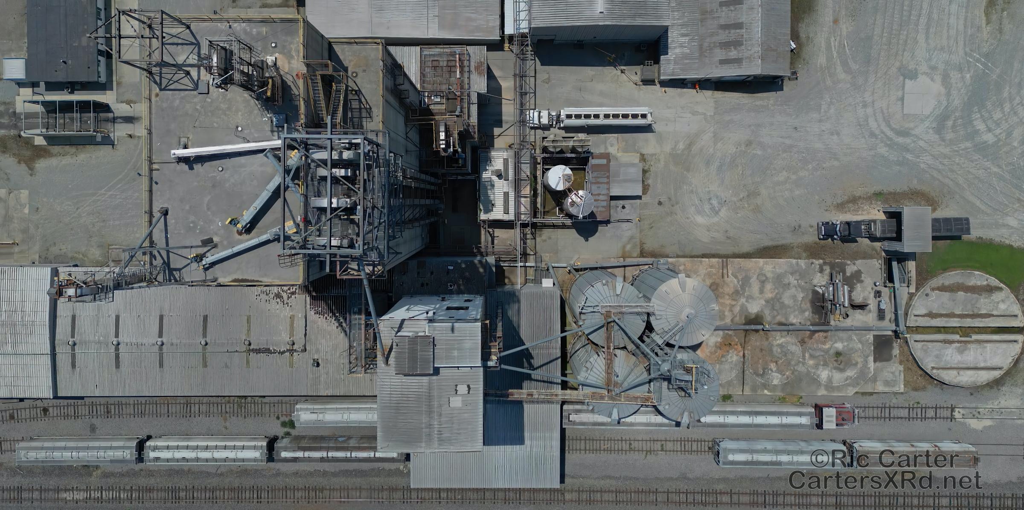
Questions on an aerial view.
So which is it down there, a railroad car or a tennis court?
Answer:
railroad car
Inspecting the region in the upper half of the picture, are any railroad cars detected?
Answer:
No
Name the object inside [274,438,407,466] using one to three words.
rail car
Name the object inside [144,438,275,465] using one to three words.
rail car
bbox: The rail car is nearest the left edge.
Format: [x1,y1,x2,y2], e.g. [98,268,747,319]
[16,438,147,465]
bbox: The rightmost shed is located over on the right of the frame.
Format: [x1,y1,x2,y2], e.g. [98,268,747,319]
[882,207,932,252]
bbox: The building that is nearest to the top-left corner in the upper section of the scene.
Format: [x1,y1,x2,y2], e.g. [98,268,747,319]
[27,0,109,83]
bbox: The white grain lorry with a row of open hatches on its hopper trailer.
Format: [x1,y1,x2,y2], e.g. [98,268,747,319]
[527,108,655,129]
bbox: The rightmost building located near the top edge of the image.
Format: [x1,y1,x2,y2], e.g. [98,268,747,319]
[657,0,791,81]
